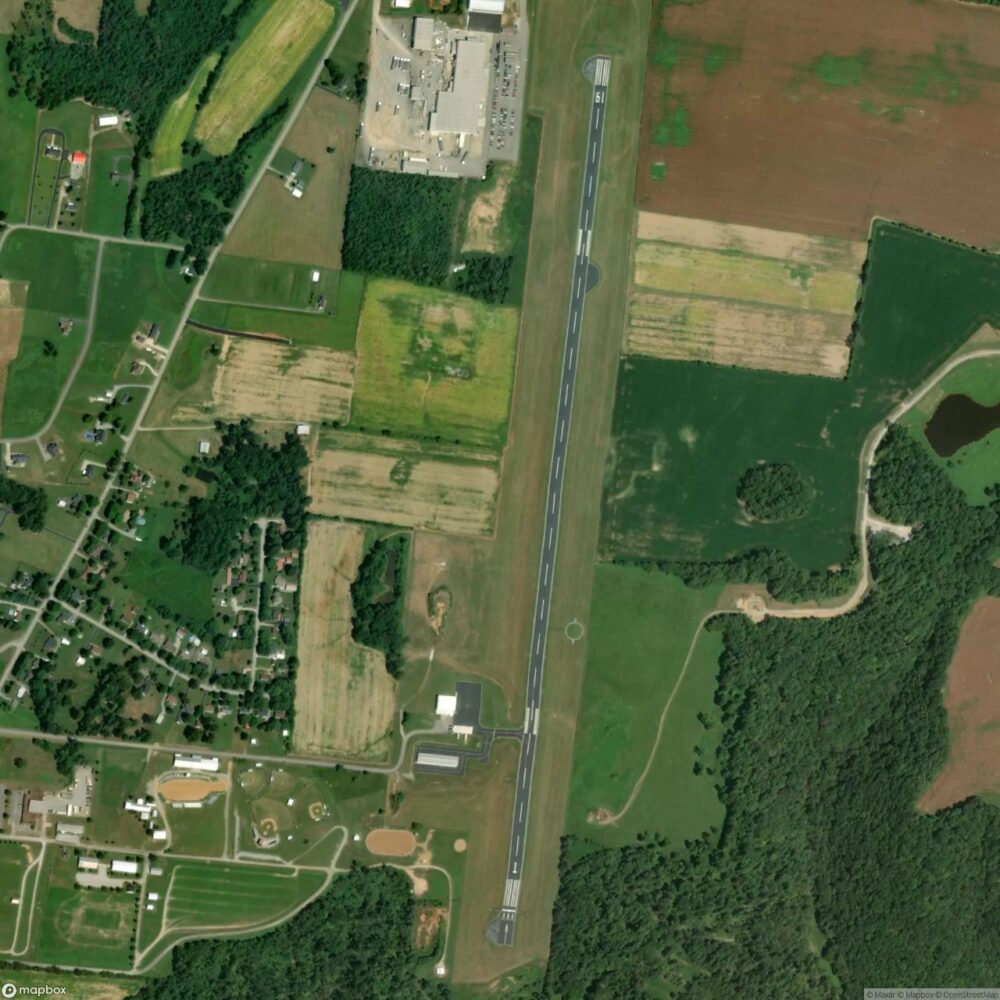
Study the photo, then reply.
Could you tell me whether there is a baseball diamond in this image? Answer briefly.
Yes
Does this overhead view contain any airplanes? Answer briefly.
No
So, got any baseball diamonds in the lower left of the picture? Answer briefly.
Yes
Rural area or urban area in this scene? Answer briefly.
rural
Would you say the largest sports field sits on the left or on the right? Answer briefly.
left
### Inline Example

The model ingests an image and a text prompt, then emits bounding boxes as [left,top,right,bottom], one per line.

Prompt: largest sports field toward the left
[40,884,134,968]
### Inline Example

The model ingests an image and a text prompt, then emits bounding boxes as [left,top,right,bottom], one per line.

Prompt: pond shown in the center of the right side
[925,394,1000,457]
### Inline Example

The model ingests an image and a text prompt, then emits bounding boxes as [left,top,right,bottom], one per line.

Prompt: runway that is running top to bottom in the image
[485,56,611,944]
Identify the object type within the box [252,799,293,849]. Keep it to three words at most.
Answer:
baseball field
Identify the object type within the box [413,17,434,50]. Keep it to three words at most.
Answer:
building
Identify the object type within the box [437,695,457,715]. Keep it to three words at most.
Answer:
hangar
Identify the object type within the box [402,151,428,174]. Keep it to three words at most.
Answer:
building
